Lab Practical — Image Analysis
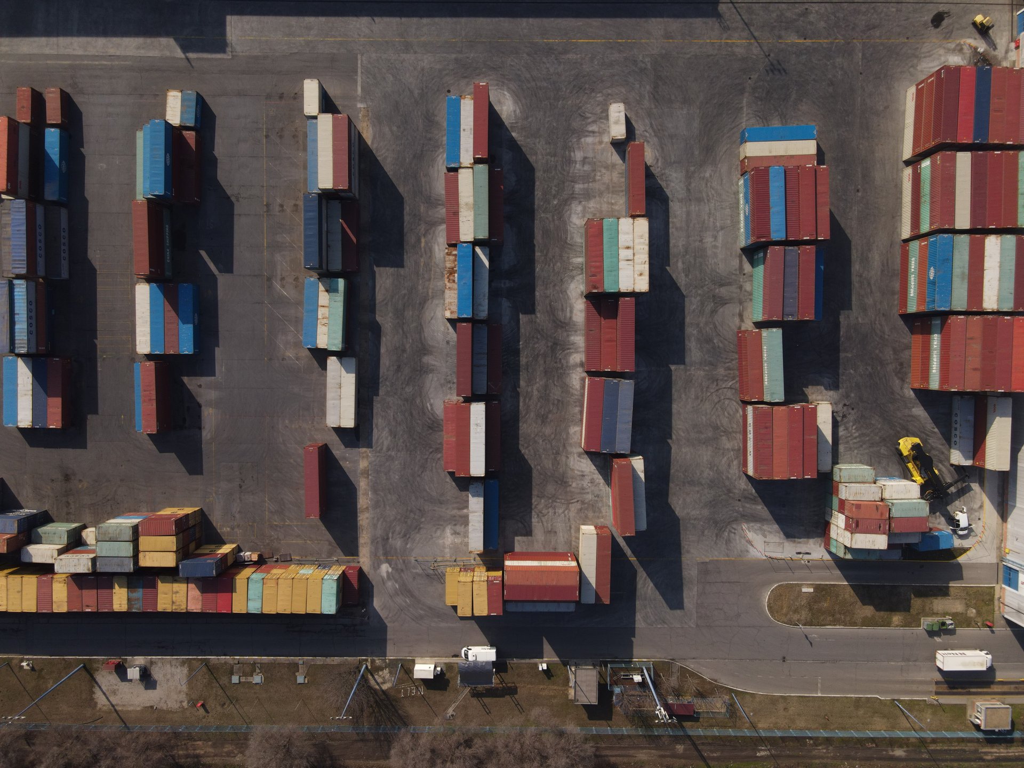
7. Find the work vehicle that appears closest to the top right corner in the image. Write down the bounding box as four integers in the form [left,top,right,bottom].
[977,13,1003,37]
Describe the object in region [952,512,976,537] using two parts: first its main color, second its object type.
white car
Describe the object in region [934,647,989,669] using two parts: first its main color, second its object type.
white truck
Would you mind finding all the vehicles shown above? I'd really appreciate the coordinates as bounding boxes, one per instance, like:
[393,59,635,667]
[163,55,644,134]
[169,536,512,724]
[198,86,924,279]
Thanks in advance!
[977,13,1003,37]
[934,647,989,669]
[952,512,976,537]
[462,642,496,658]
[900,438,964,501]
